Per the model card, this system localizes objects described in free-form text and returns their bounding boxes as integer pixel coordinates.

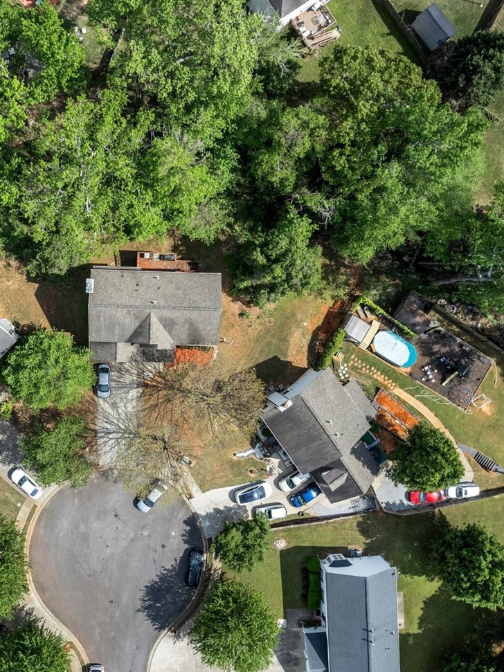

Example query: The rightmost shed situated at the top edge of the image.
[409,3,456,54]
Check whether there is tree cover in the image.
Yes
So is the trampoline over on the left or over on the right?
right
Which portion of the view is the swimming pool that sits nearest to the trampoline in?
right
